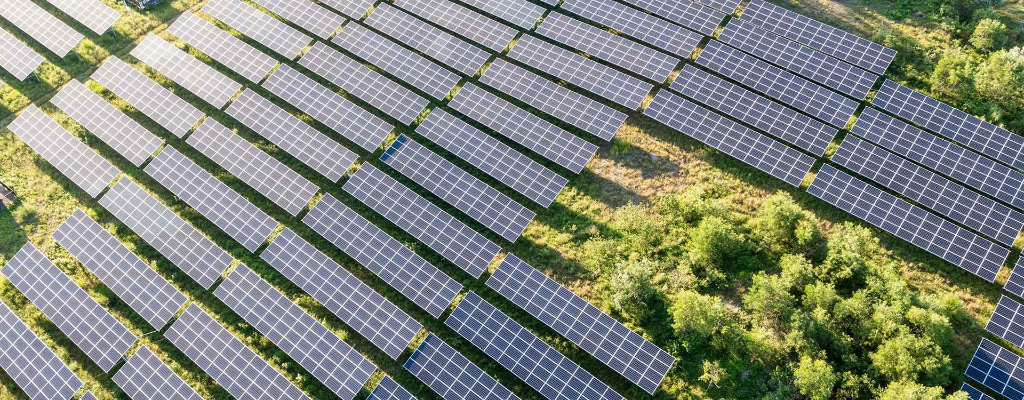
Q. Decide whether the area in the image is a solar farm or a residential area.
solar farm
